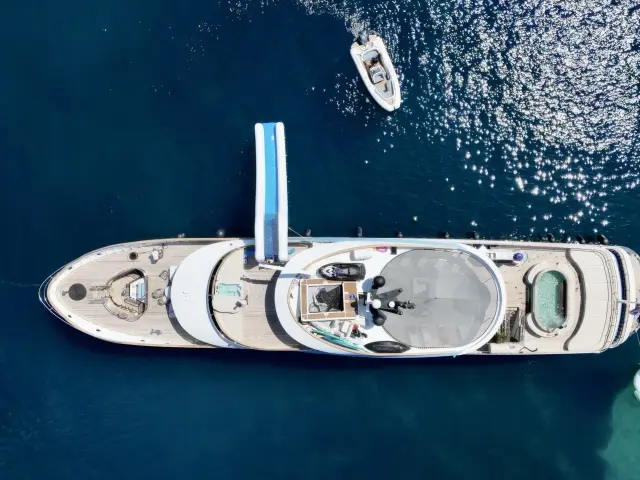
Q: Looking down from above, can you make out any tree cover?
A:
No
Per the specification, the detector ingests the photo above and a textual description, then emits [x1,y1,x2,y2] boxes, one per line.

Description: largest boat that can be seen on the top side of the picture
[352,33,402,111]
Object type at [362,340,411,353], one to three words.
boat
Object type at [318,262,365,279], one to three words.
boat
